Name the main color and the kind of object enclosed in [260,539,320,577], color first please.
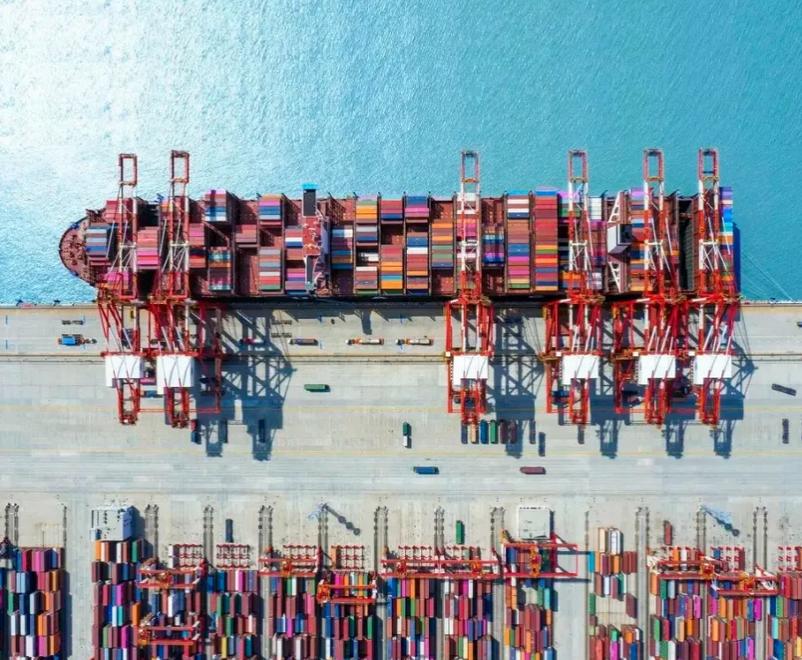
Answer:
red container crane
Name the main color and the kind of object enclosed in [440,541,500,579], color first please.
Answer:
red container crane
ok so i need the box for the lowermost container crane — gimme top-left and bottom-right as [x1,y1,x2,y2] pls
[139,604,205,645]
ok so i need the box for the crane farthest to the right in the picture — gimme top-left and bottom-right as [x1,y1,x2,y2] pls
[704,556,779,596]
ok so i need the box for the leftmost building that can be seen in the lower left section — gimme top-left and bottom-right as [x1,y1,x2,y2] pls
[91,503,132,539]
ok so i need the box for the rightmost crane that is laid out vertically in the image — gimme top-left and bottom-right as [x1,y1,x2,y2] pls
[657,151,743,428]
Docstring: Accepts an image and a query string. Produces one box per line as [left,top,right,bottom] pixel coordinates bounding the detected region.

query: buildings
[91,503,132,539]
[516,504,551,538]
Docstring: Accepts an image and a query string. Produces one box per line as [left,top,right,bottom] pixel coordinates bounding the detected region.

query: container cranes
[531,151,603,428]
[647,541,718,579]
[96,153,180,430]
[438,151,492,428]
[139,550,205,588]
[502,528,585,577]
[598,151,685,428]
[657,151,743,428]
[704,556,779,596]
[440,541,500,579]
[381,541,441,579]
[320,564,377,604]
[260,539,320,577]
[152,151,236,428]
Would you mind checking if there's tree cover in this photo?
No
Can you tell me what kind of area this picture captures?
port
